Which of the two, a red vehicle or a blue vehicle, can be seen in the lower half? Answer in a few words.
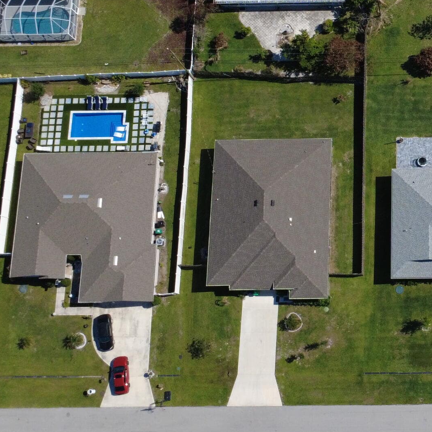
red vehicle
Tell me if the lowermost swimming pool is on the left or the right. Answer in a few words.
left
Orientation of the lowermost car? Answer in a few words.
vertically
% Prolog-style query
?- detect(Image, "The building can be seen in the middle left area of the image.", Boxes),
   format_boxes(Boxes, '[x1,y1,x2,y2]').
[8,152,161,303]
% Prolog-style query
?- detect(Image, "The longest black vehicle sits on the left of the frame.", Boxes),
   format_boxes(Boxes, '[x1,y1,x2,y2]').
[94,314,115,353]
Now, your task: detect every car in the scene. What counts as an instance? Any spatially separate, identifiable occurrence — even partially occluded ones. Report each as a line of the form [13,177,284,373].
[94,314,115,353]
[109,356,130,396]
